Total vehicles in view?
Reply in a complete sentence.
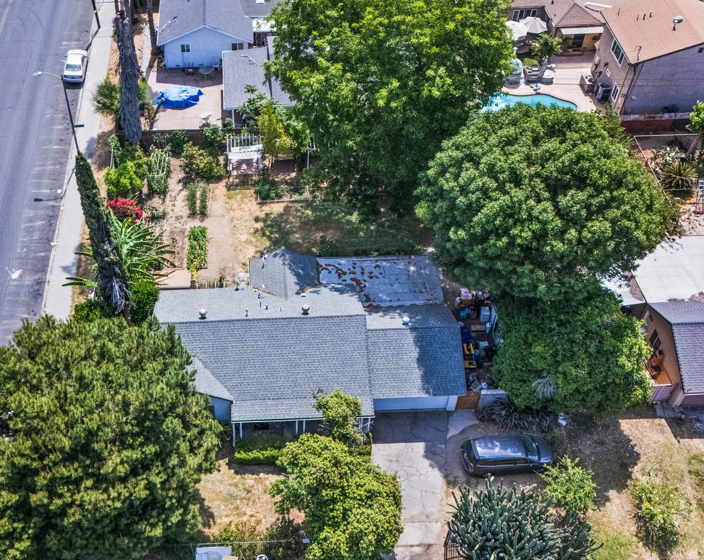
In total, there are 2 vehicles in the scene.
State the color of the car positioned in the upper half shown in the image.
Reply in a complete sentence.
In this view, the car positioned in the upper half is white.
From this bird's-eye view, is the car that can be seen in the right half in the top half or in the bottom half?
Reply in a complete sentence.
The car that can be seen in the right half is in the bottom half of the image.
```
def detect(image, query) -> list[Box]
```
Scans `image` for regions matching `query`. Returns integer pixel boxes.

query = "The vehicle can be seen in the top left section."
[61,53,88,89]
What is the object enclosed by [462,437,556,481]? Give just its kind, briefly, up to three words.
car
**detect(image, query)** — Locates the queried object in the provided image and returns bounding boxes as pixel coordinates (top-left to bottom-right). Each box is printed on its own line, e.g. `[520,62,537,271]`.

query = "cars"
[462,437,556,481]
[61,53,88,89]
